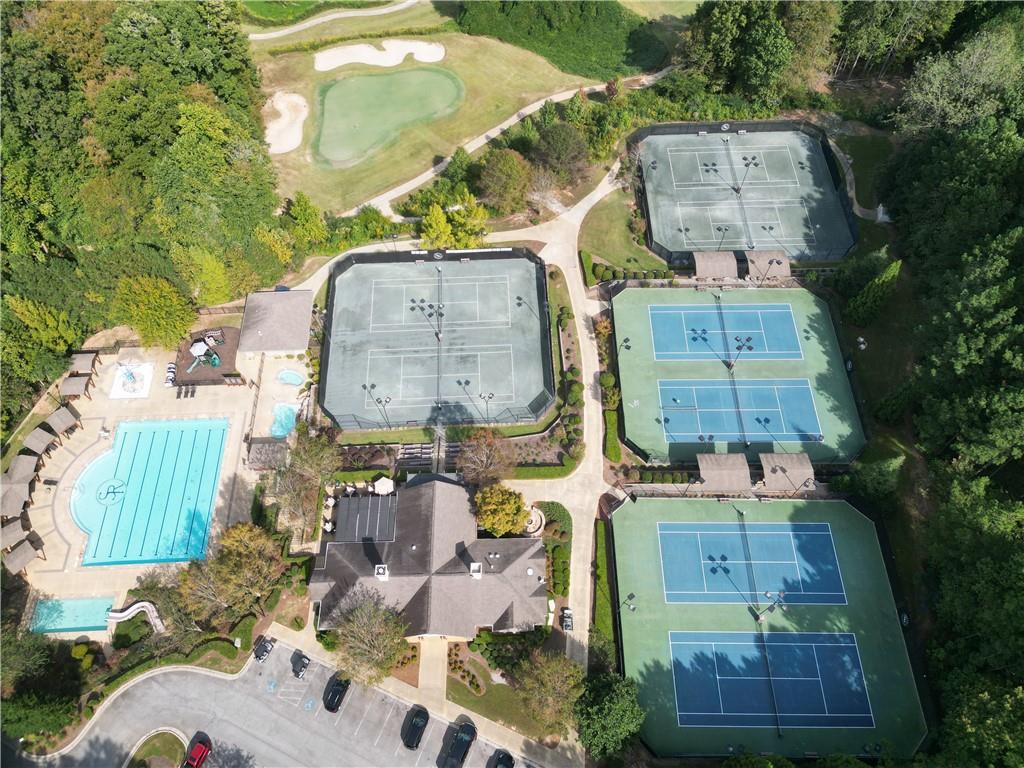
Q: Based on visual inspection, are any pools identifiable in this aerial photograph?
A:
Yes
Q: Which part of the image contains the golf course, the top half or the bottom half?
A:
top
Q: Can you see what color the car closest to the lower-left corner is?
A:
red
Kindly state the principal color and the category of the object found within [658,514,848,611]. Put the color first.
blue tennis court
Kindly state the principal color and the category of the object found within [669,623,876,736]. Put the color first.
blue tennis court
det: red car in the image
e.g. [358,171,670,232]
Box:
[178,739,211,768]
